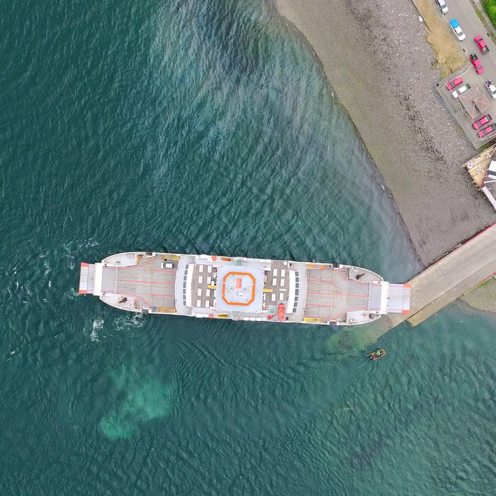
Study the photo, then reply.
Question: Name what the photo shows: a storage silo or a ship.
ship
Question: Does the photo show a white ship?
Yes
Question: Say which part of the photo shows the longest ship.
center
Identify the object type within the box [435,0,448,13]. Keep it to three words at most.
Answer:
vehicle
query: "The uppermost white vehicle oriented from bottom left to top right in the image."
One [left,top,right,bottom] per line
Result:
[451,82,471,98]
